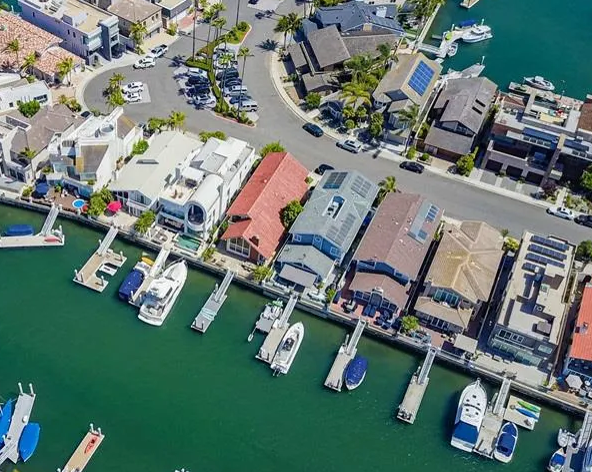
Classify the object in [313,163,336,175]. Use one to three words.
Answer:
vehicle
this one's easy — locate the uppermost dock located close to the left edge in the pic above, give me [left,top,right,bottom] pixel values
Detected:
[0,202,65,248]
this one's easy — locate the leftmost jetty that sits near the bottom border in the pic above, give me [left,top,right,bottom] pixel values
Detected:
[0,386,36,463]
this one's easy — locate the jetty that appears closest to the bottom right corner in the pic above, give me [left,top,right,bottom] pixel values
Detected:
[562,406,592,472]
